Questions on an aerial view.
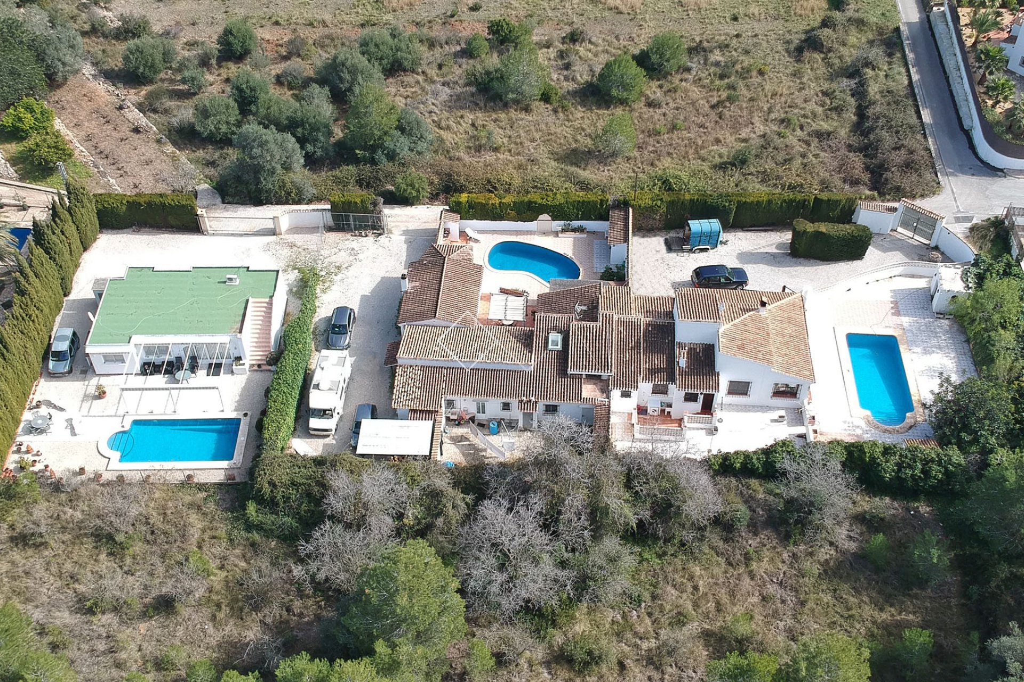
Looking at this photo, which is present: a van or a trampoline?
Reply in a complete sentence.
I can see a van in this picture.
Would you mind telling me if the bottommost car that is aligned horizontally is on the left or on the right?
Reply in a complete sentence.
The bottommost car that is aligned horizontally sits on the right side.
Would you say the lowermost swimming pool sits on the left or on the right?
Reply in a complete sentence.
The lowermost swimming pool is on the left side of the image.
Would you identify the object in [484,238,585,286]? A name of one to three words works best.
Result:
swimming pool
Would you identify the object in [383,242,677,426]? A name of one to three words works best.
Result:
house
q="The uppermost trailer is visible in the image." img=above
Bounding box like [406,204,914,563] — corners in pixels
[675,226,733,257]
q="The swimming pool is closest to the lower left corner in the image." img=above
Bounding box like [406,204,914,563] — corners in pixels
[97,413,250,470]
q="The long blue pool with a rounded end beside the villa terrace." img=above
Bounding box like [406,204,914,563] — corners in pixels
[837,327,926,434]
